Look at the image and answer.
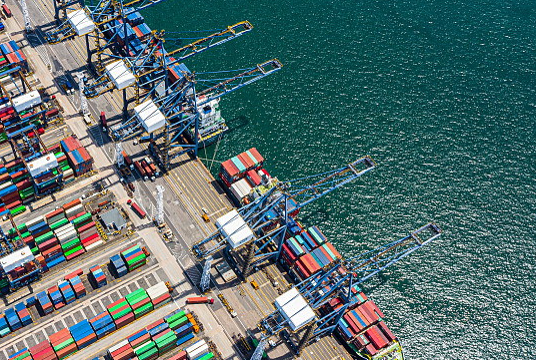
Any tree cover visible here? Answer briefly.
No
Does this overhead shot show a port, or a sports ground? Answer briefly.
port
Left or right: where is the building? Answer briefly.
left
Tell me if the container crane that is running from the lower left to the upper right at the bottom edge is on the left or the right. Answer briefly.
right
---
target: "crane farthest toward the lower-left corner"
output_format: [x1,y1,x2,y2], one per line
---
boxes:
[0,209,44,292]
